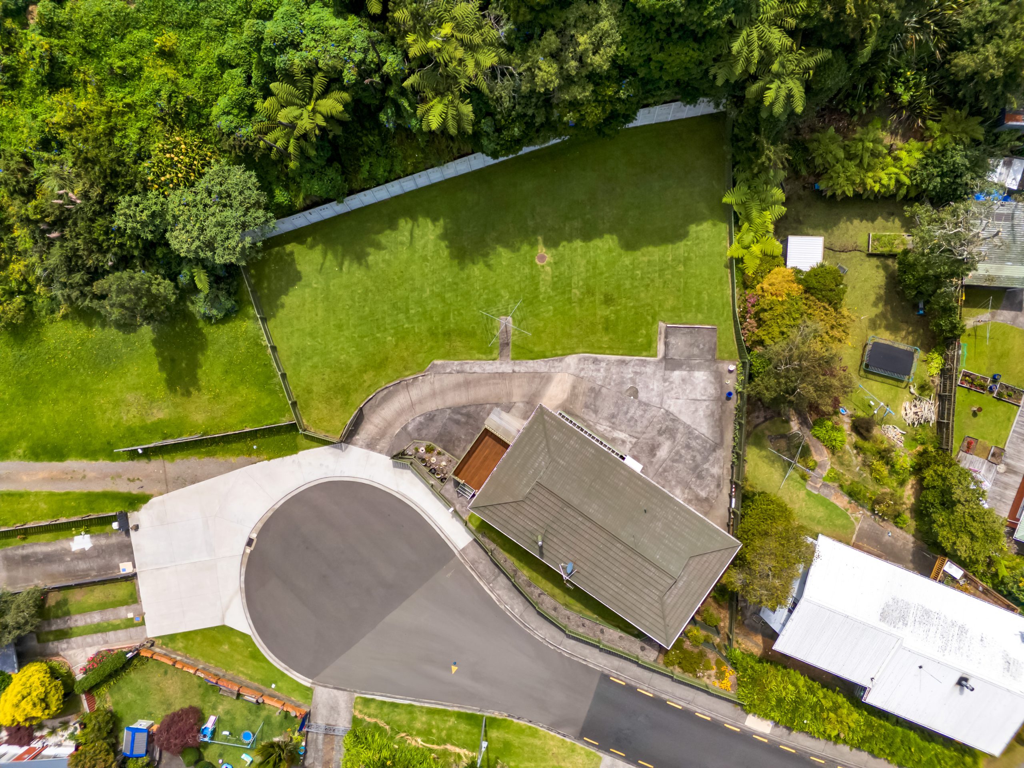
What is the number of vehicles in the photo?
0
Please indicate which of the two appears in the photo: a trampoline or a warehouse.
trampoline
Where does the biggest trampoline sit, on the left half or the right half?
right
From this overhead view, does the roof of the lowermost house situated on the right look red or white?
white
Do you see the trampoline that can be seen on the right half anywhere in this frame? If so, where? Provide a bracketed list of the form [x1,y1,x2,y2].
[858,336,919,381]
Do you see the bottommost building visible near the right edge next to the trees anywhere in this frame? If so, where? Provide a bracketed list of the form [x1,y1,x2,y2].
[765,533,1024,757]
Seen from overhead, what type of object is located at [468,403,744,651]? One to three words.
house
